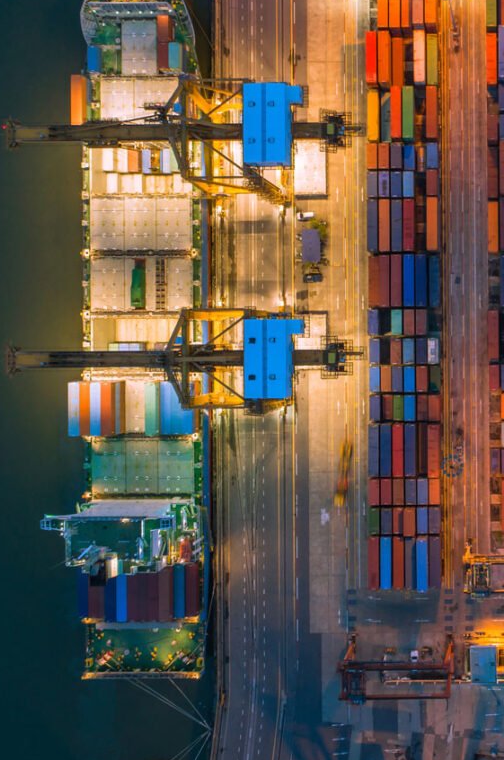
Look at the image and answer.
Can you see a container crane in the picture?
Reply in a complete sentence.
Yes, the photo shows a container crane.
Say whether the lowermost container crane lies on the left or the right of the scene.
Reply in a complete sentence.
It is on the right.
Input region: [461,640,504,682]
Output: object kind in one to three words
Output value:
shed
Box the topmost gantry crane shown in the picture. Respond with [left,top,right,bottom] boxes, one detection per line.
[4,71,367,218]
